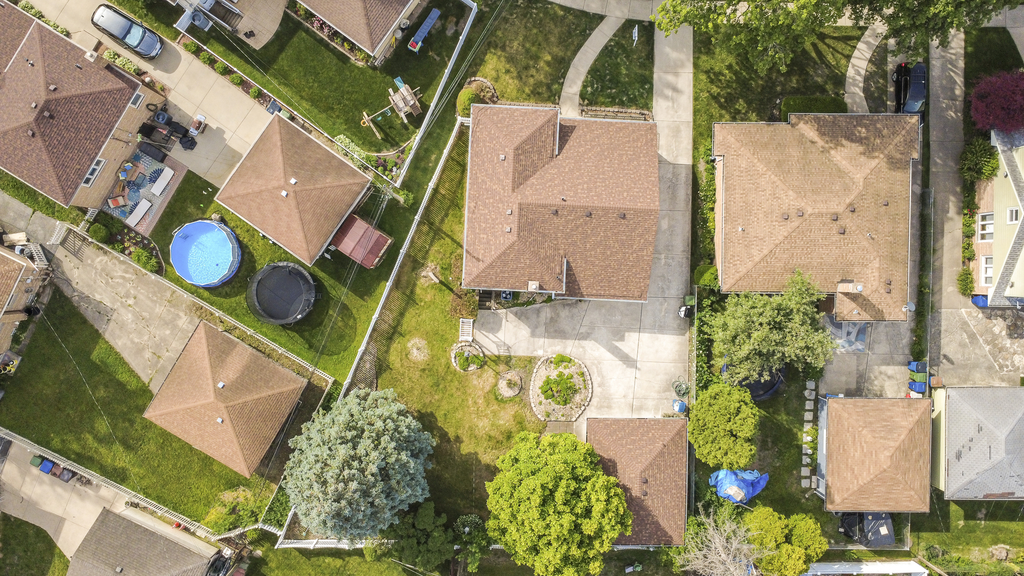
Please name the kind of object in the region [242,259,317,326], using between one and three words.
trampoline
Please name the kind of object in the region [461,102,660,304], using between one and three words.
house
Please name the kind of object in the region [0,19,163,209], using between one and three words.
house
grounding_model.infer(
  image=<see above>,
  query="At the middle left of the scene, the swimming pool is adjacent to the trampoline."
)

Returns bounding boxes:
[171,219,243,287]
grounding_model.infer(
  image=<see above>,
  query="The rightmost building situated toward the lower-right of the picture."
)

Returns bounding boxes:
[927,386,1024,502]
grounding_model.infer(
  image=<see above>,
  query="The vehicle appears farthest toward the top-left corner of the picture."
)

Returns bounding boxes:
[87,3,169,67]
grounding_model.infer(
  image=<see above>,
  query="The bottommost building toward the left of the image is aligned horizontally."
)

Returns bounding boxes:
[53,499,223,576]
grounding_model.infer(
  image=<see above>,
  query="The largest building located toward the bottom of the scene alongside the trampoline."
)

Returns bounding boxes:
[141,318,312,480]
